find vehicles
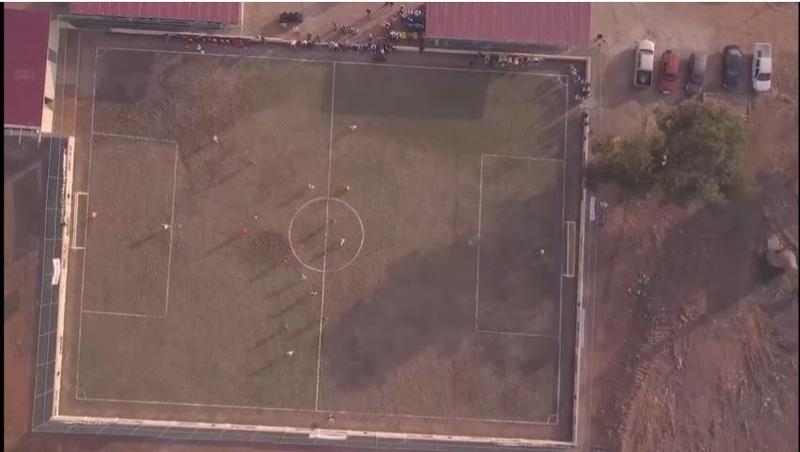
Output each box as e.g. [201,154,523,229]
[682,52,705,95]
[630,41,655,91]
[719,44,744,91]
[655,52,678,94]
[748,42,773,94]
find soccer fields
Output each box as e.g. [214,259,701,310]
[57,33,585,440]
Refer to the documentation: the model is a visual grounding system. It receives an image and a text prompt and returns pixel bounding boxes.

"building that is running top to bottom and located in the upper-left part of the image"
[0,7,62,145]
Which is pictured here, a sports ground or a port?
sports ground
